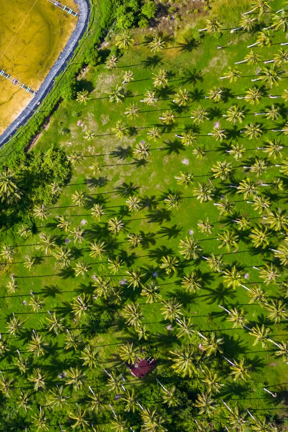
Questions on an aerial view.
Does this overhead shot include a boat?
No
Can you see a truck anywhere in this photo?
No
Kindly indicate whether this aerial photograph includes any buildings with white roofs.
No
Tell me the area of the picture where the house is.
bottom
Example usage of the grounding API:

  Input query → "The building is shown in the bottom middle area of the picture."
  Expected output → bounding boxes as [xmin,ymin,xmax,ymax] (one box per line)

[128,354,155,379]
